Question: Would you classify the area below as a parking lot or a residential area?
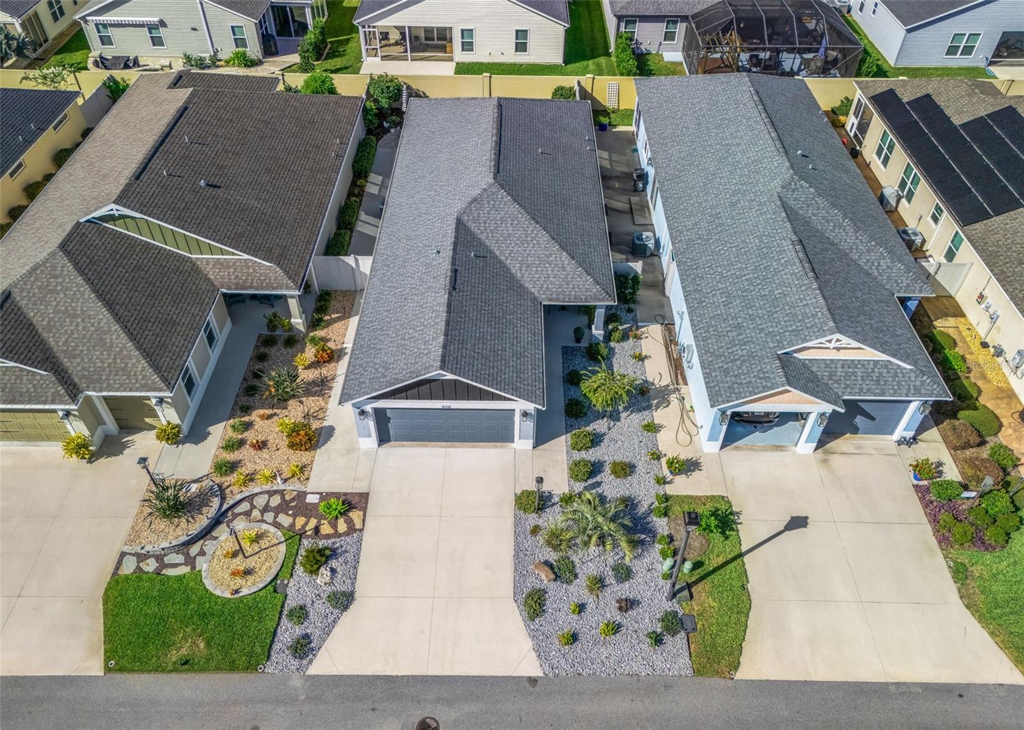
residential area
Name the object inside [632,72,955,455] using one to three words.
house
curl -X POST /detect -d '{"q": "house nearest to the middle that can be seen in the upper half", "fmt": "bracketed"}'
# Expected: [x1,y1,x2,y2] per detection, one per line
[341,96,619,452]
